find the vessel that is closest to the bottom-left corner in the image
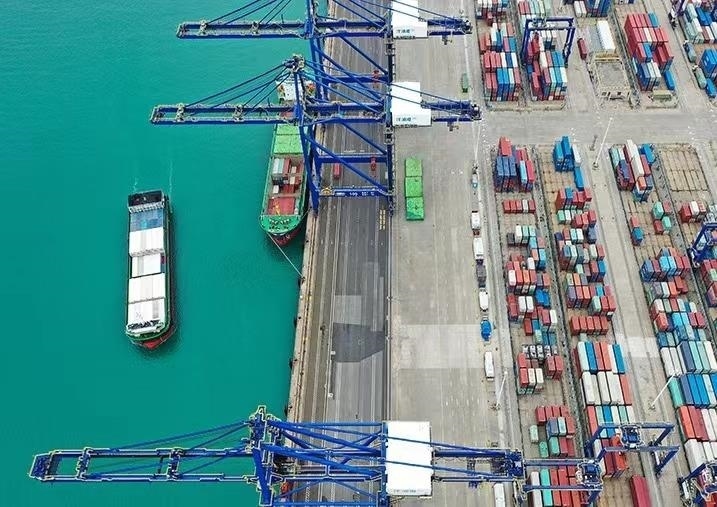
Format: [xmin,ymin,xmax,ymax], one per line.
[127,189,177,352]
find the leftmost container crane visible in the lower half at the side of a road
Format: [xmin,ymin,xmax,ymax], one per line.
[20,409,521,507]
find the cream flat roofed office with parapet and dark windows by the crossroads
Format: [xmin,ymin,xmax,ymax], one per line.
[592,60,632,99]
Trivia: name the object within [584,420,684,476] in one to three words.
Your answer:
container crane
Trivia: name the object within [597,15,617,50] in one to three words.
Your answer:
shed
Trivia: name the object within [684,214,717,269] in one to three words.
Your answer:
container crane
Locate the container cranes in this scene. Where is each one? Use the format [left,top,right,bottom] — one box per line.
[584,420,684,476]
[172,0,473,131]
[513,455,606,507]
[679,459,717,507]
[20,409,521,507]
[520,17,578,67]
[145,48,482,218]
[684,214,717,269]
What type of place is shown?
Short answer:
port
